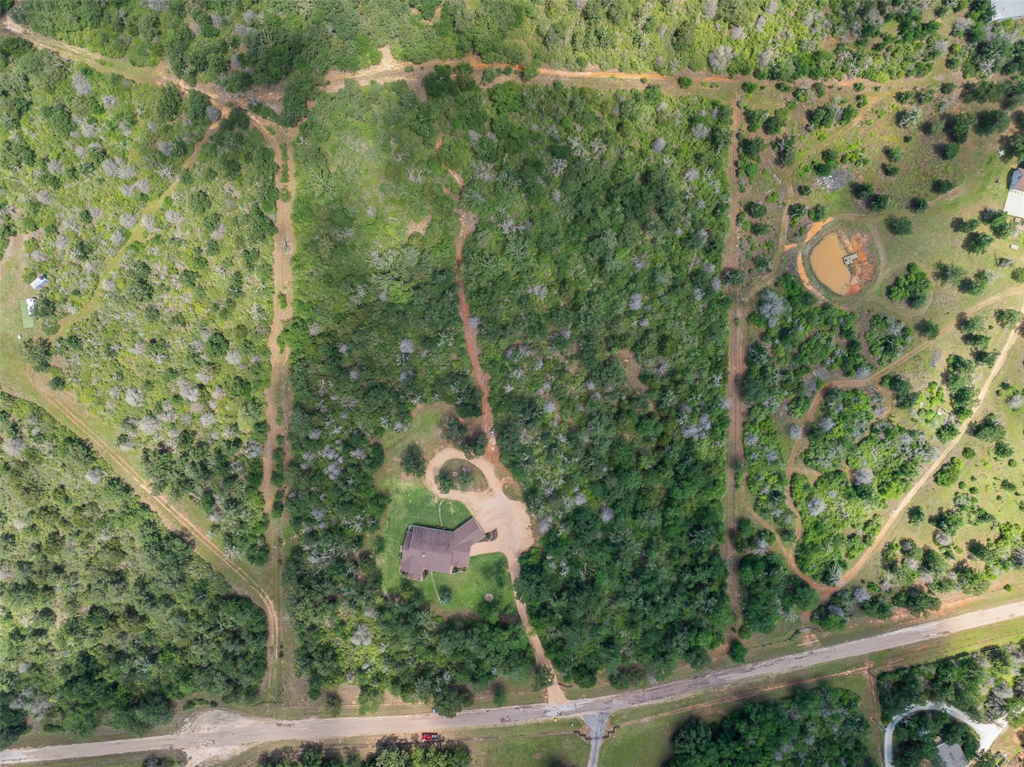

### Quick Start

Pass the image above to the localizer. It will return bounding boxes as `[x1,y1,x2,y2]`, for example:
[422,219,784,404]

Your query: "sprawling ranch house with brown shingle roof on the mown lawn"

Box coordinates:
[399,518,486,577]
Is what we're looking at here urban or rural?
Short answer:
rural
